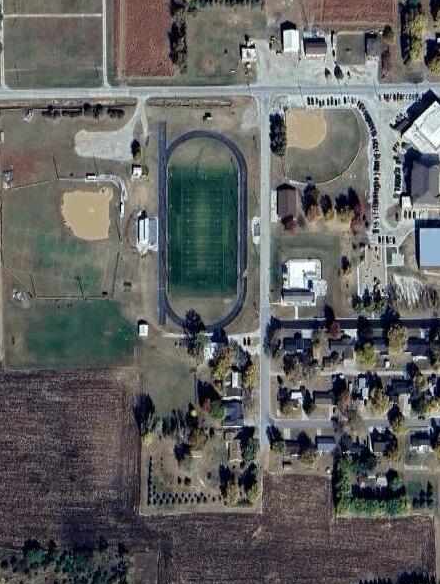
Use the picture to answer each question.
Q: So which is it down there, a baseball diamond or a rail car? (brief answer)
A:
baseball diamond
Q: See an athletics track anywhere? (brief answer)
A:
Yes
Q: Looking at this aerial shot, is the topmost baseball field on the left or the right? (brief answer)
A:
right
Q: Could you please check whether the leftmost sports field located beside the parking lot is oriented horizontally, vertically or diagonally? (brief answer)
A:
vertically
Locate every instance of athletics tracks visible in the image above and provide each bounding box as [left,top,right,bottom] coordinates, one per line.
[159,121,248,331]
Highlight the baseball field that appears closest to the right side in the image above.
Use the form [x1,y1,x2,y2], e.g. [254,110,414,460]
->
[281,108,364,185]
